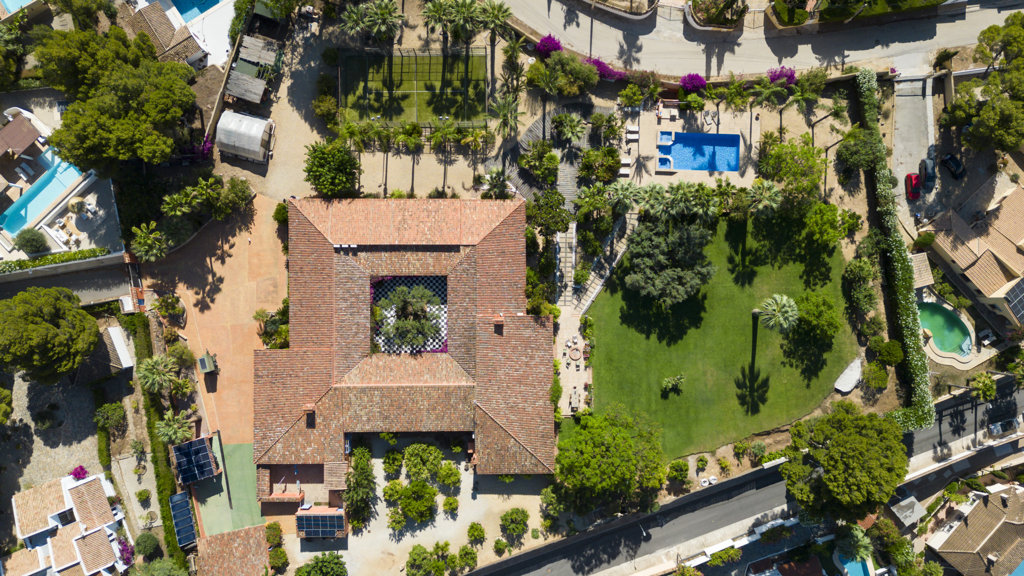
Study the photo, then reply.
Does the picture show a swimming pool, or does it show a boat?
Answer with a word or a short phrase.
swimming pool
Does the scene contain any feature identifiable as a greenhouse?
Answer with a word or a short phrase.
Yes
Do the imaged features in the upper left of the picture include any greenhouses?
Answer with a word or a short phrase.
Yes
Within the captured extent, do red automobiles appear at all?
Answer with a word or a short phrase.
Yes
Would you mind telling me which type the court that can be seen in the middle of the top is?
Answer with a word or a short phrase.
tennis court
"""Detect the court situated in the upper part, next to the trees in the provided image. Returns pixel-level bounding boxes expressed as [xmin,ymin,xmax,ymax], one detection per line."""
[339,52,488,127]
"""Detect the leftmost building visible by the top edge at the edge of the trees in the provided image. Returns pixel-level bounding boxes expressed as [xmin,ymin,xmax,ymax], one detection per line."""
[127,2,215,70]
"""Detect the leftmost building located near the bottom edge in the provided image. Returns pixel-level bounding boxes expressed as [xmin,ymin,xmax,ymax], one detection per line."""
[0,468,135,576]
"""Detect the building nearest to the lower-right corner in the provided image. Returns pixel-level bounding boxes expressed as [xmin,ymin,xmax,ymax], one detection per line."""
[917,485,1024,576]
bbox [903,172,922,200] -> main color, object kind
red car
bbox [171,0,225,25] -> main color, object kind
blue swimming pool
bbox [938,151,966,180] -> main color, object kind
black car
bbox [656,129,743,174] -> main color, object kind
blue swimming pool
